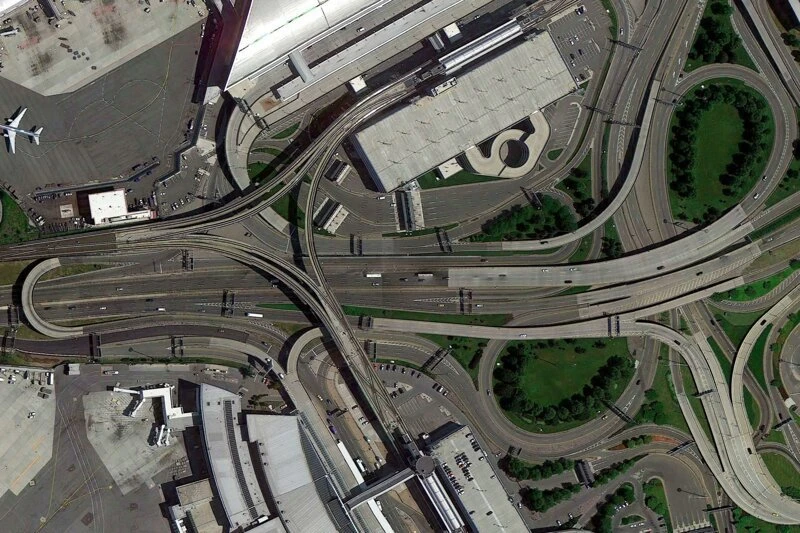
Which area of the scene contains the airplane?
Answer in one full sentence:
The airplane sits in the top left section of the image.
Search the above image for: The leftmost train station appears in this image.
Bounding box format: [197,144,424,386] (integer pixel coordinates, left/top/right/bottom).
[420,468,468,533]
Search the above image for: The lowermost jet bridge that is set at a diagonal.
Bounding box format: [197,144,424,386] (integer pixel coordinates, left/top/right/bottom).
[129,398,147,417]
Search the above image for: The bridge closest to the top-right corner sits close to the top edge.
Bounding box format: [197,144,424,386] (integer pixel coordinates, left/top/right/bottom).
[741,0,791,78]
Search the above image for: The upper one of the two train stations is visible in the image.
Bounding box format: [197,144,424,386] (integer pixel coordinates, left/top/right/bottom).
[434,17,522,75]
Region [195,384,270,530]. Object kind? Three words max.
building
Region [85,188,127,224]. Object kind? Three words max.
building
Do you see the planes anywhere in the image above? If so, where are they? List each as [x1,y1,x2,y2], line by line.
[0,107,38,153]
